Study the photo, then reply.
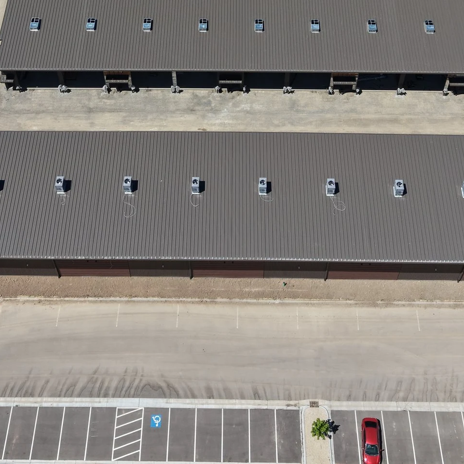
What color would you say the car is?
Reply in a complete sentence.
The car looks red in the image.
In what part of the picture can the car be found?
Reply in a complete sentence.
The car sits in the bottom right section of the image.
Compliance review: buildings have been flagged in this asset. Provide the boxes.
[0,0,464,93]
[0,130,464,285]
